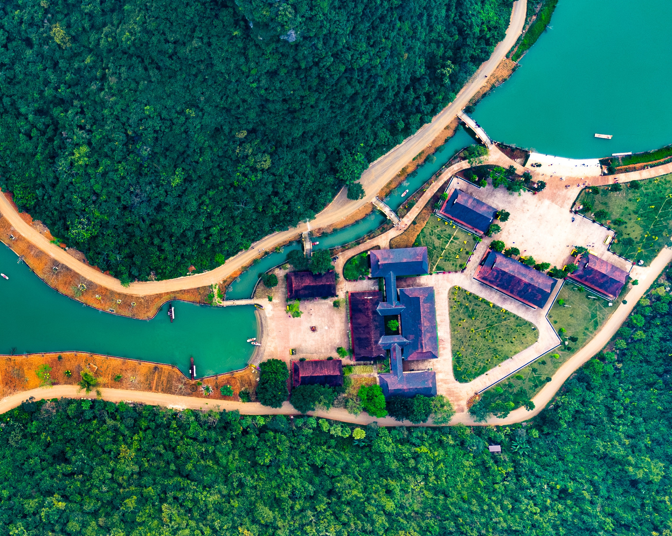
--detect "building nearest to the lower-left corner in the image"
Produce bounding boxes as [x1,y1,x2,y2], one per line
[293,360,342,387]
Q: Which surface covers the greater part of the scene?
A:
trees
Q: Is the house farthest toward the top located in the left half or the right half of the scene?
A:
right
